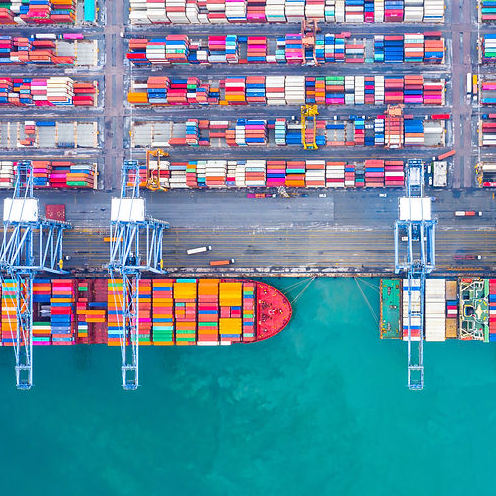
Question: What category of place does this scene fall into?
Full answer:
What you see here is a port.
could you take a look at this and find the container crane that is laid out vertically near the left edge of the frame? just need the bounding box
[0,159,75,392]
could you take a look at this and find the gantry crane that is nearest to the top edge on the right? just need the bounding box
[303,17,321,67]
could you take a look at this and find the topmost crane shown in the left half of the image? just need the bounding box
[146,147,171,192]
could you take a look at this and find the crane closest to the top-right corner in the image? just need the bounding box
[385,103,404,151]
